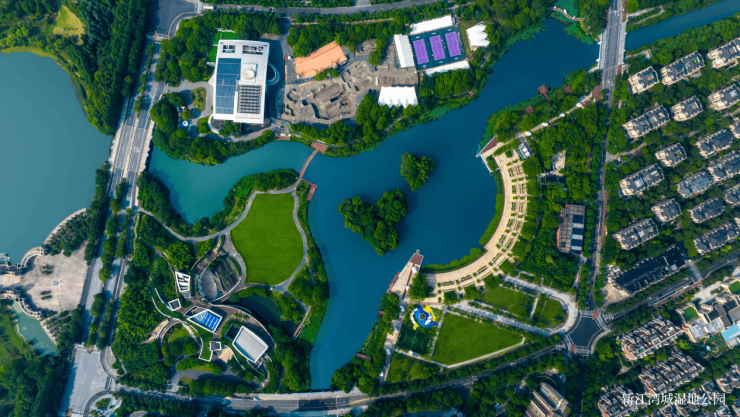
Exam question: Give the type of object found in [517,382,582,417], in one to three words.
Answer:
building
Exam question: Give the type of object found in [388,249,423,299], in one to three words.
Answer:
pier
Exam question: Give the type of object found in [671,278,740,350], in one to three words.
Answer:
building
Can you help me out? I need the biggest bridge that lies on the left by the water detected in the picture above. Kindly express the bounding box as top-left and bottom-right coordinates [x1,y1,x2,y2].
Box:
[110,109,156,168]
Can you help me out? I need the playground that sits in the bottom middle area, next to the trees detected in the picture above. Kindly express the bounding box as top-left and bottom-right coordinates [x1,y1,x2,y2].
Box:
[410,305,439,330]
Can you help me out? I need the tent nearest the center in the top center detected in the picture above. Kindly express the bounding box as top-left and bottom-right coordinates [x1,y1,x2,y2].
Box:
[379,87,418,109]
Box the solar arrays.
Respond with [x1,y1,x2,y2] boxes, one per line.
[215,59,241,113]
